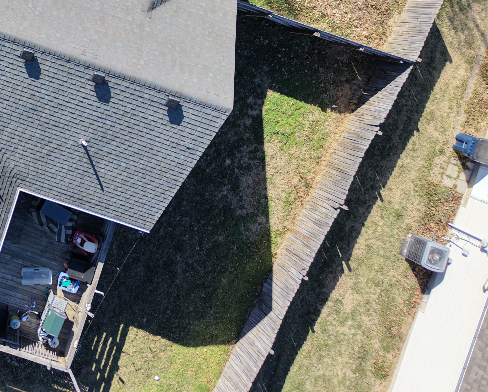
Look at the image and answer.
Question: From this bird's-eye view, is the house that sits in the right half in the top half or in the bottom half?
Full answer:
The bottom half of the photo is where the house that sits in the right half is.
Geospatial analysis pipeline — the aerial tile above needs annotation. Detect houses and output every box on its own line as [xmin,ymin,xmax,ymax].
[383,192,488,392]
[0,0,239,248]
